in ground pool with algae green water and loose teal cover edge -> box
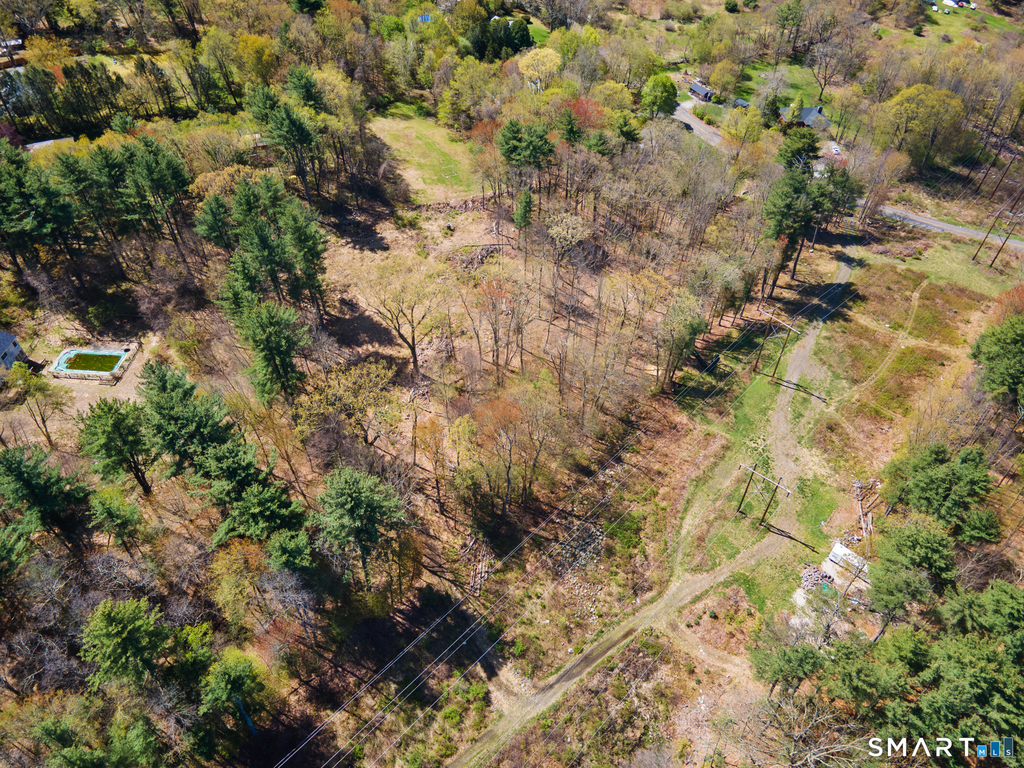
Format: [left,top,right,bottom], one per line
[49,346,127,377]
